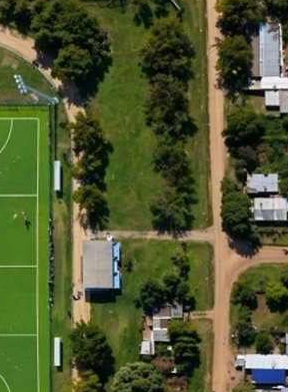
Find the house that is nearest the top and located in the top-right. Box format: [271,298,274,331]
[251,23,282,79]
